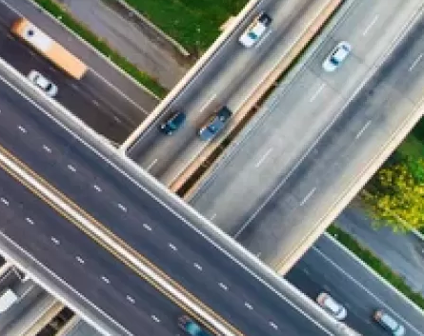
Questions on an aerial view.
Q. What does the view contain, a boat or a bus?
bus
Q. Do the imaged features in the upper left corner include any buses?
Yes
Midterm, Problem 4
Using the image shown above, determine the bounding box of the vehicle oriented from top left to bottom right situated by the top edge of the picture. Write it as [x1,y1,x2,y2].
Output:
[7,15,86,80]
